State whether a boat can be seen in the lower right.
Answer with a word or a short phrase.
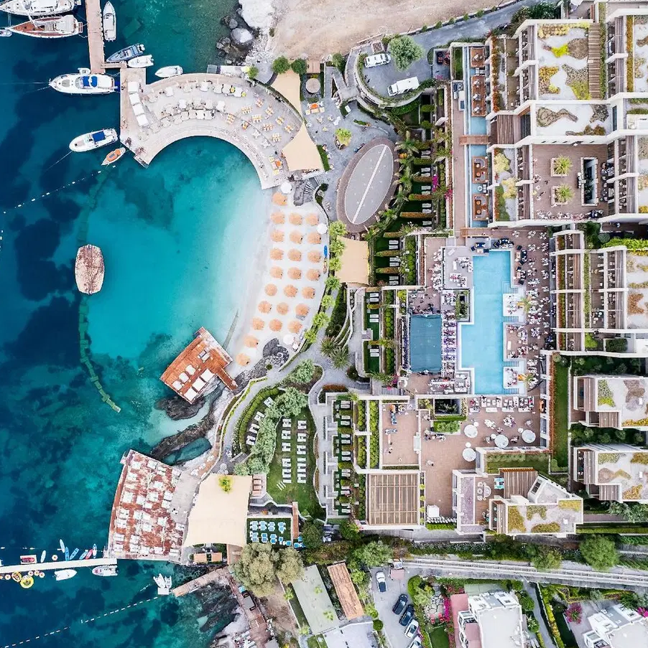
No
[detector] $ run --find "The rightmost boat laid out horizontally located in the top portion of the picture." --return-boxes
[156,65,183,77]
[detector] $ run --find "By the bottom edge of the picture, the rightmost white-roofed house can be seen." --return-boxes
[578,594,648,648]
